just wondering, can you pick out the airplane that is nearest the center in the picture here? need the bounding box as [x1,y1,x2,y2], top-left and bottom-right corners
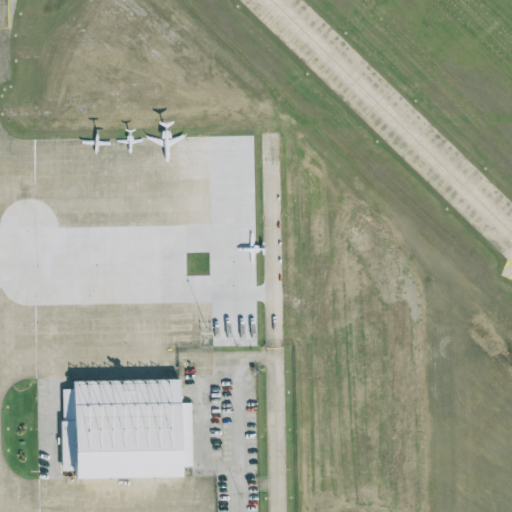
[238,233,266,266]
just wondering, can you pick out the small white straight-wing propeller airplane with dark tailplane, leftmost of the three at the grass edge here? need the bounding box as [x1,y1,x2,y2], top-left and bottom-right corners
[82,128,112,155]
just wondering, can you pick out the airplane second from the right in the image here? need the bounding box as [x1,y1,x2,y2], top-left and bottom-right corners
[146,121,187,162]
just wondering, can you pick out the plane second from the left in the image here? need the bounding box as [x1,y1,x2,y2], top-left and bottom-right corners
[117,128,142,153]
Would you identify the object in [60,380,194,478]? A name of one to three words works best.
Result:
hangar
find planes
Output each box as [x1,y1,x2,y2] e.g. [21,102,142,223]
[146,121,187,162]
[117,128,142,153]
[82,128,112,155]
[238,233,266,266]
